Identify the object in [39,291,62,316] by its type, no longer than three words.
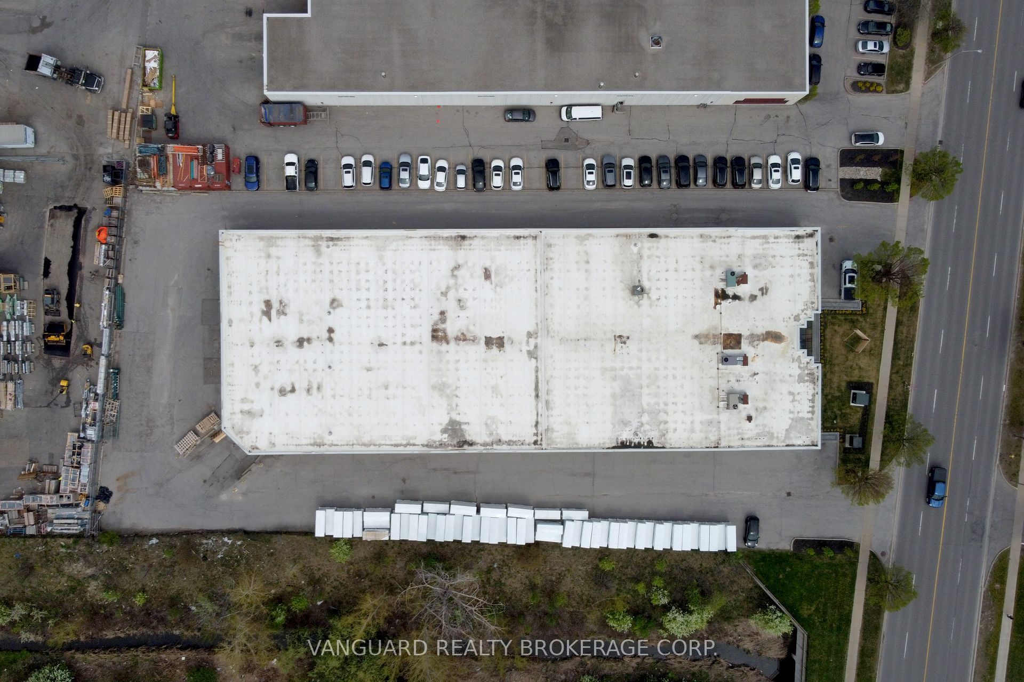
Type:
work vehicle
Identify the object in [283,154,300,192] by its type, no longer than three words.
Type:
vehicle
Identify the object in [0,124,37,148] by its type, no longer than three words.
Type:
trailer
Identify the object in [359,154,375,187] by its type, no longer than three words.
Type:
car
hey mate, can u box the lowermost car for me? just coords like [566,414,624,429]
[743,515,760,547]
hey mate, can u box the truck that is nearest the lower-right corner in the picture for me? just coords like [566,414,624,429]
[925,466,947,506]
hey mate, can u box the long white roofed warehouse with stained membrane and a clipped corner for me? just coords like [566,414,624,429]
[218,227,823,455]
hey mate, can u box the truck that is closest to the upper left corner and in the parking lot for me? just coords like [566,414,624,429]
[21,48,103,91]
